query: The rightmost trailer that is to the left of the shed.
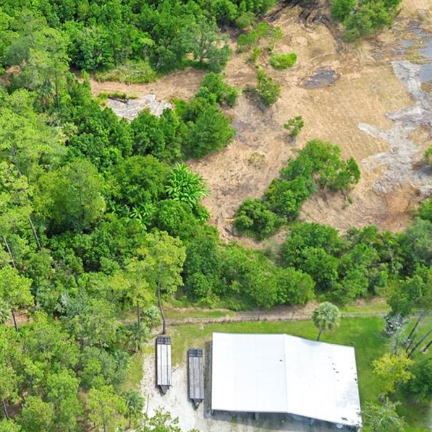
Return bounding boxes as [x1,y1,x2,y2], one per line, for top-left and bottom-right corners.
[189,348,204,409]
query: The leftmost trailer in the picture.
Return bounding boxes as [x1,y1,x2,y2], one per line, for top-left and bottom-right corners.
[157,336,172,397]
